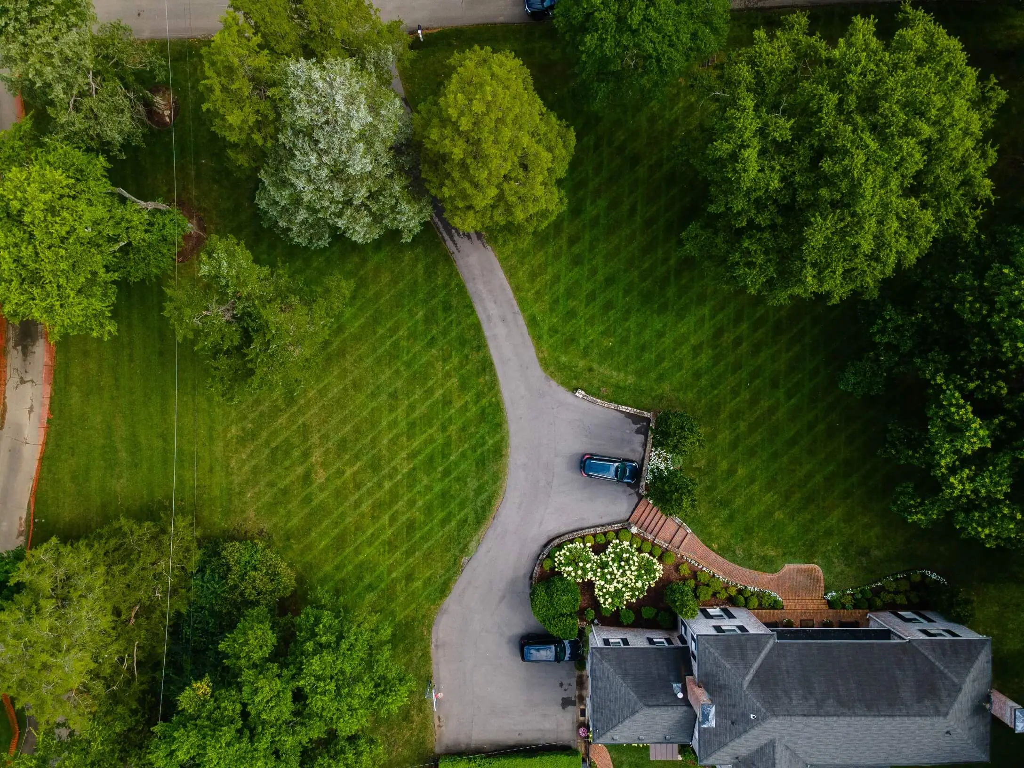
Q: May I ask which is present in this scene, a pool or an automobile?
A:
automobile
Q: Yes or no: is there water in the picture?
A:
No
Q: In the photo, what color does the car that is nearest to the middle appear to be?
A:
blue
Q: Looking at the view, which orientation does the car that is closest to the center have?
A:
from left to right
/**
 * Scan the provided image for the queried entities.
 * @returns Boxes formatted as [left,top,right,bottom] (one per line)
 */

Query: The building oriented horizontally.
[586,609,1024,768]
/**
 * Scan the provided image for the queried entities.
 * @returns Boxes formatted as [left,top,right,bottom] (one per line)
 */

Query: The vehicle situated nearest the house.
[520,635,580,666]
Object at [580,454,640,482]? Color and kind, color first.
blue car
